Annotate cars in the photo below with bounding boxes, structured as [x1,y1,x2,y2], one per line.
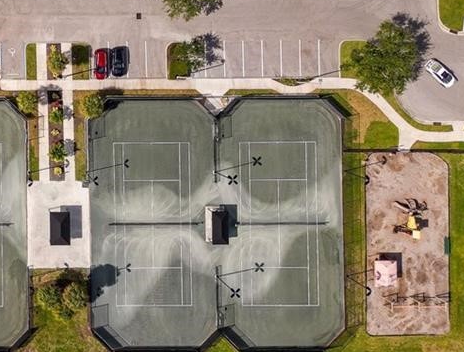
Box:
[95,46,110,80]
[426,59,460,88]
[112,44,128,78]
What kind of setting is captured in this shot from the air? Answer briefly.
sports ground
